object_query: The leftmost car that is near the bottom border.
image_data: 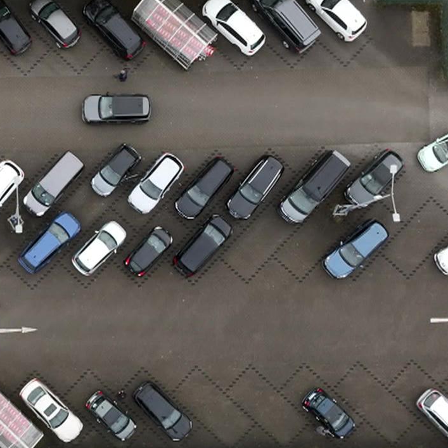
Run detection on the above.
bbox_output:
[19,376,82,441]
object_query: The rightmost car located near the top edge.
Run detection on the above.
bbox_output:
[309,0,368,45]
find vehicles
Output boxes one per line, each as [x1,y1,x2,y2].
[26,150,84,216]
[86,389,135,441]
[19,213,77,275]
[418,130,448,173]
[326,219,389,277]
[93,144,140,196]
[86,0,145,64]
[177,156,236,219]
[415,386,448,442]
[255,0,322,53]
[282,149,356,222]
[71,222,124,277]
[131,151,187,213]
[173,215,232,277]
[0,159,25,208]
[126,228,171,277]
[229,154,286,217]
[206,0,265,58]
[83,90,151,125]
[31,0,82,51]
[309,0,368,45]
[19,376,82,441]
[346,147,405,206]
[302,386,353,437]
[133,379,191,440]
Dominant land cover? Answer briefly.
paved ground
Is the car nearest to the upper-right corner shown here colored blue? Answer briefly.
No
